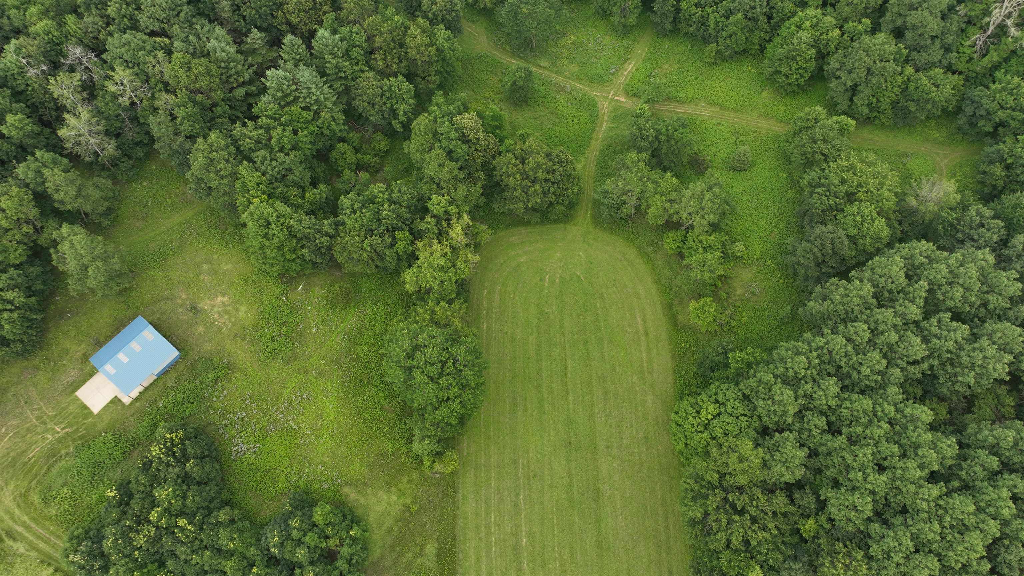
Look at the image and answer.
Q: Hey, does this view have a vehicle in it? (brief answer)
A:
No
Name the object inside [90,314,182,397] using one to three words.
barn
